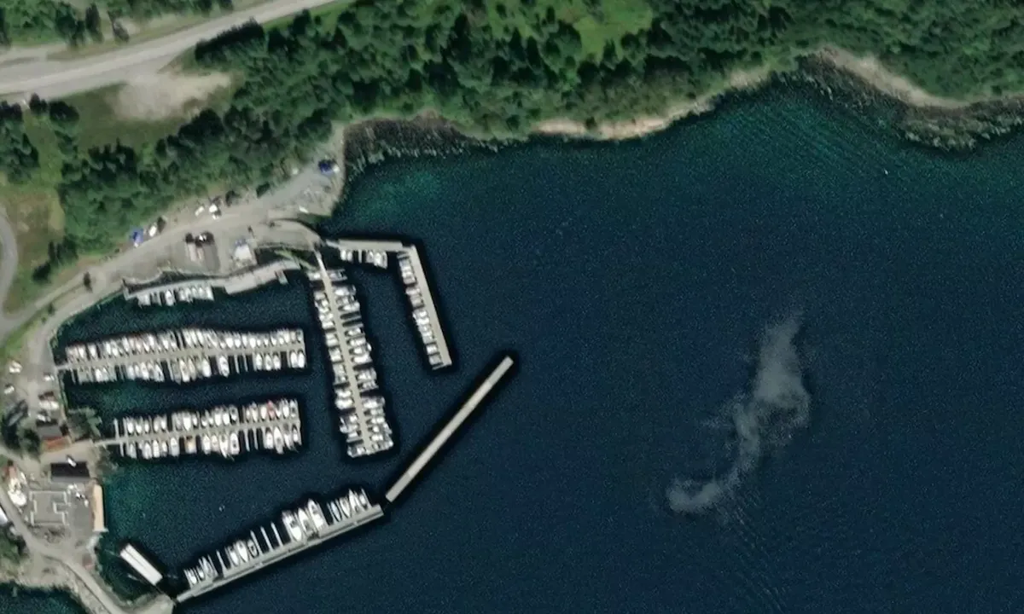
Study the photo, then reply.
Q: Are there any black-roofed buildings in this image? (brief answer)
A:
Yes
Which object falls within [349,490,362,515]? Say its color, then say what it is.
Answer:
white boat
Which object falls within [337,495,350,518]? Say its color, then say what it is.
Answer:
white boat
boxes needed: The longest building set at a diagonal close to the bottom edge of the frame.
[120,544,163,585]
